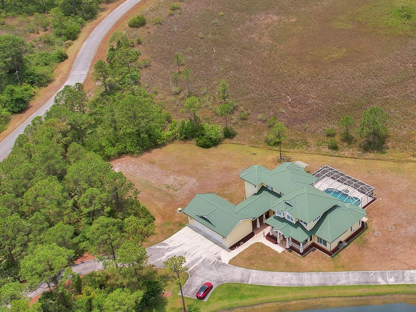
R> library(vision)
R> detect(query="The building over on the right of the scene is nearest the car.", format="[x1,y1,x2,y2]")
[184,160,370,252]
